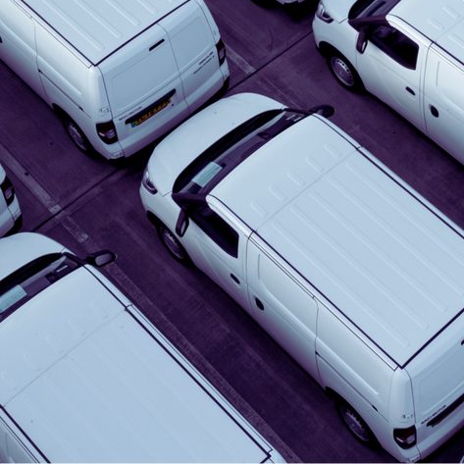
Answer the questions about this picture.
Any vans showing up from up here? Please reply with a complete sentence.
Yes, there's a van here.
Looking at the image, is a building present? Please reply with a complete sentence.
No, there's no building here.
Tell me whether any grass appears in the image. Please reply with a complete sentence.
No, the picture contains no grass.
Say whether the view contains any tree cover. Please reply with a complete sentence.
No, the picture contains no tree cover.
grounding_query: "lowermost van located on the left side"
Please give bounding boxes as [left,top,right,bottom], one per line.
[0,234,286,464]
